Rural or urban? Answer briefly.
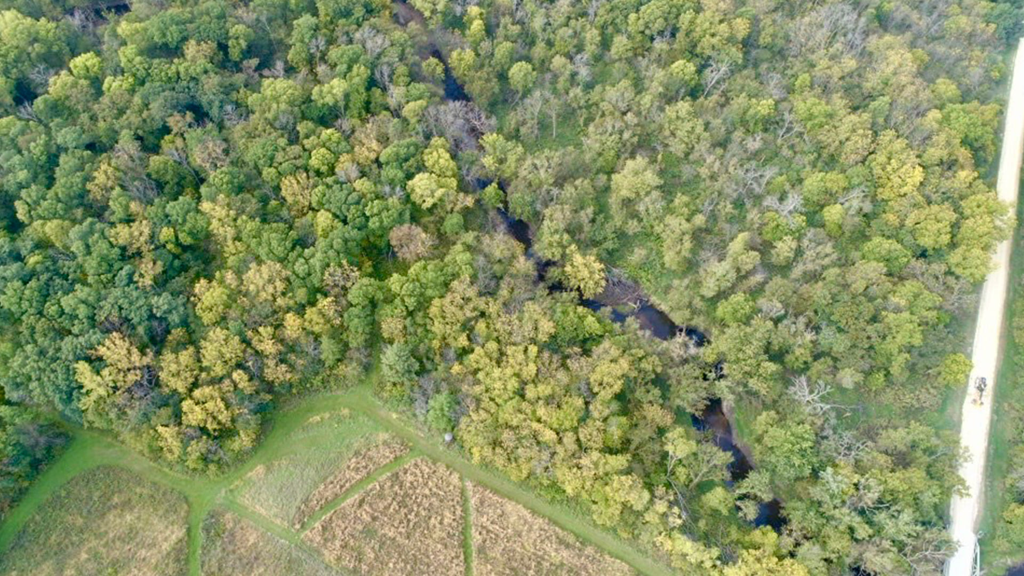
rural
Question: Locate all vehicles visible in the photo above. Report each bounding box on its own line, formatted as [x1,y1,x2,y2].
[971,377,990,408]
